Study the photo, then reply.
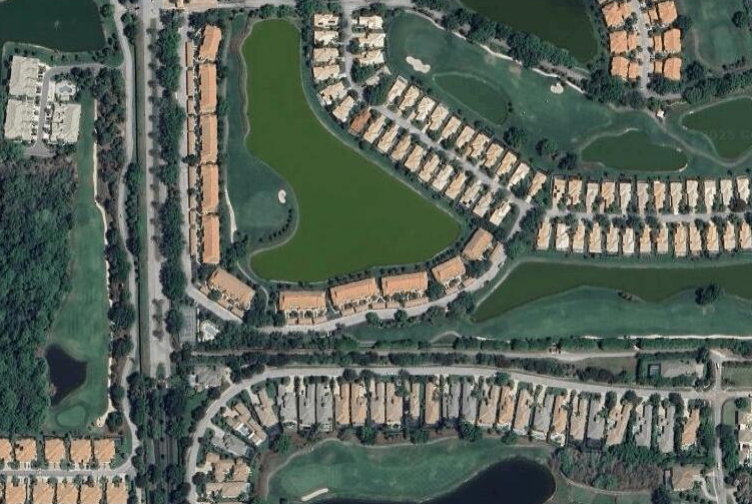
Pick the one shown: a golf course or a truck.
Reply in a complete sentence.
This aerial view contains a golf course.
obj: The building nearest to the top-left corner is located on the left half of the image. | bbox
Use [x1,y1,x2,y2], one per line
[7,54,40,98]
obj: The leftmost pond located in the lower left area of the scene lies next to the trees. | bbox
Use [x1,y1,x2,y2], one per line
[45,345,88,405]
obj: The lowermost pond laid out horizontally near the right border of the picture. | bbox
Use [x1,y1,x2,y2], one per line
[474,261,752,321]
